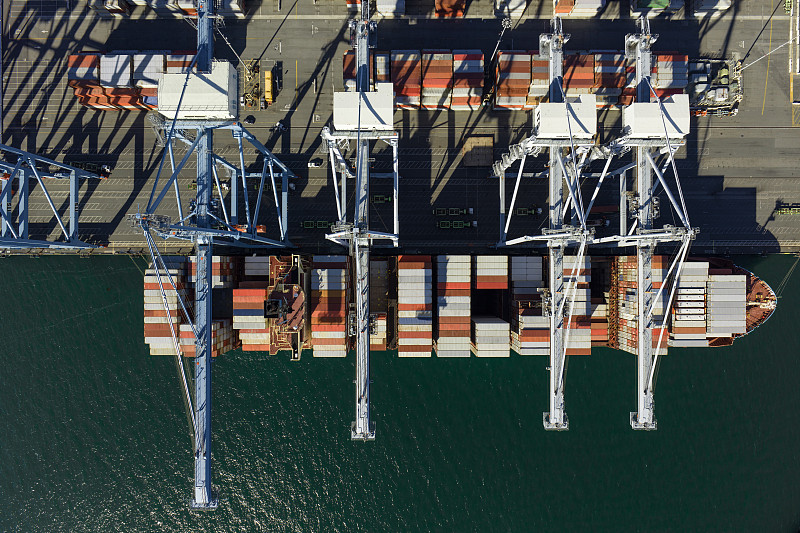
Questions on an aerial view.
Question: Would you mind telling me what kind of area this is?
port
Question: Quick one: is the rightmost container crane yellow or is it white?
white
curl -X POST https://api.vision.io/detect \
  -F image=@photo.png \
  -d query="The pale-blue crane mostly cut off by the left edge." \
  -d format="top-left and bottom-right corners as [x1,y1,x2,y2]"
[0,168,38,248]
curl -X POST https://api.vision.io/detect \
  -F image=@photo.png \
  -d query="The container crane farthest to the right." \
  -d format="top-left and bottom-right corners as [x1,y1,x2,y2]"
[562,8,709,428]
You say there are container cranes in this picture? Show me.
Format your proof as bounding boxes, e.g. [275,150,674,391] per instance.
[109,0,305,506]
[0,143,110,248]
[562,8,709,428]
[320,0,406,438]
[484,8,607,428]
[0,168,38,248]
